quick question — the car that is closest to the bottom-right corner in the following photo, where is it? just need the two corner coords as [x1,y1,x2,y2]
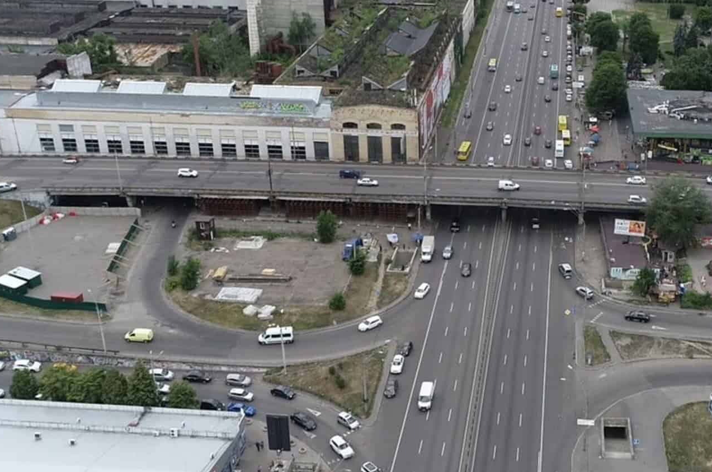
[625,310,649,323]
